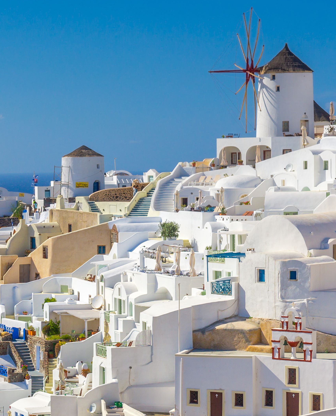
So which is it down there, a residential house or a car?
residential house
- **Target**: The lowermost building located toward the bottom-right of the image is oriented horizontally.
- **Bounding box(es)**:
[169,349,336,416]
